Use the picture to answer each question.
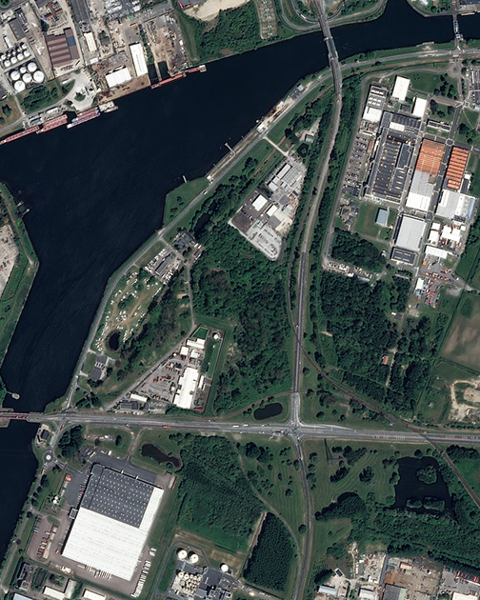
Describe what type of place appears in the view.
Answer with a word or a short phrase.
port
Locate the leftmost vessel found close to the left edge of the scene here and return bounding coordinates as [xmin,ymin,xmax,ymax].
[0,126,40,144]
